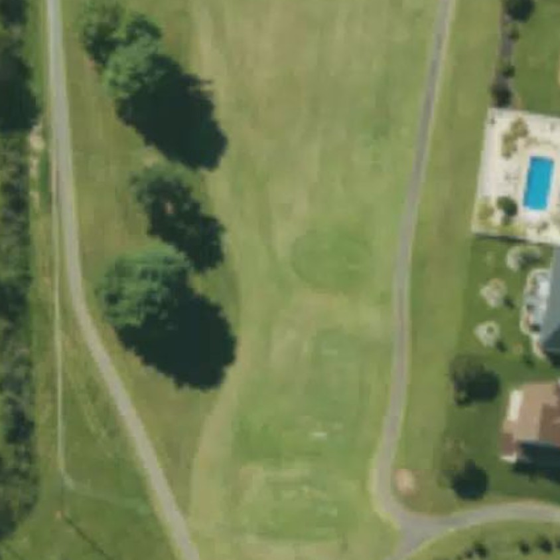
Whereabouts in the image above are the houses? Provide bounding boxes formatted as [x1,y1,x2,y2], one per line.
[543,248,560,356]
[514,381,560,451]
